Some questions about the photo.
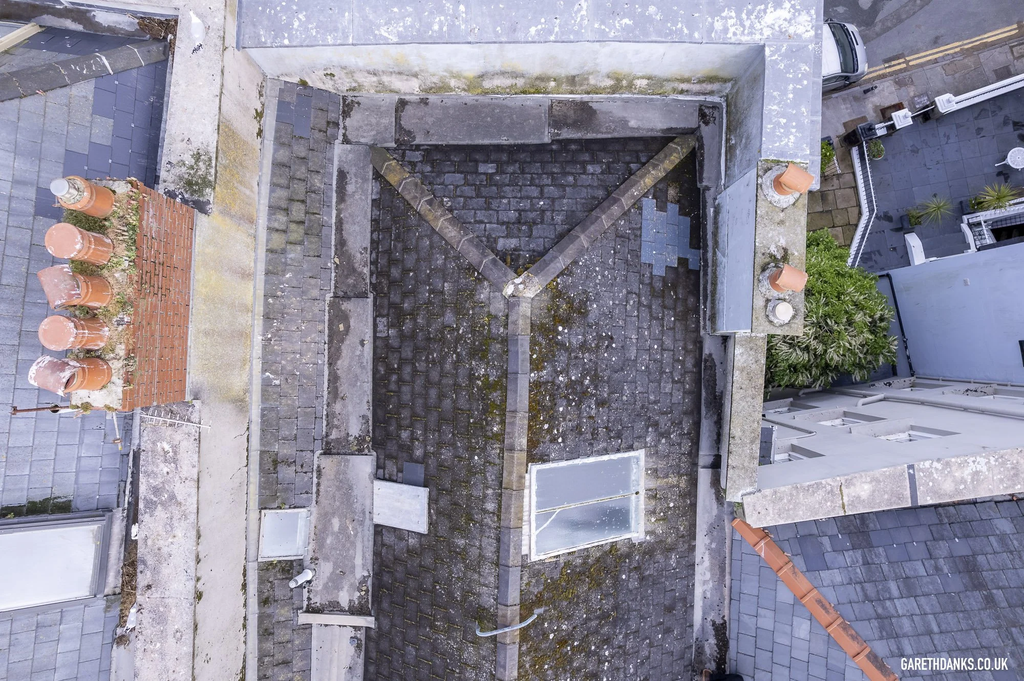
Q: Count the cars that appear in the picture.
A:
one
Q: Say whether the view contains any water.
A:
No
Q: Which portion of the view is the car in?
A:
top right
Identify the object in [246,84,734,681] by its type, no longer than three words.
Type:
house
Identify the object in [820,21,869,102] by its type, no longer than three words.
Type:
car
